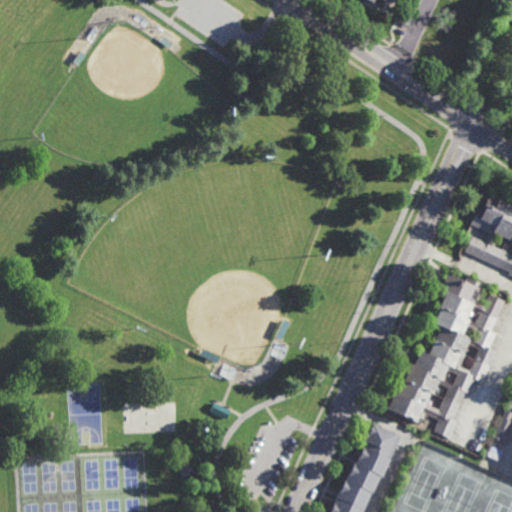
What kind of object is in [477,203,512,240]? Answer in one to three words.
house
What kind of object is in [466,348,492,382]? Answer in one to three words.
building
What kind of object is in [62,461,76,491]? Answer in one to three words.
sports court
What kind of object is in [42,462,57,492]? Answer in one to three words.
sports court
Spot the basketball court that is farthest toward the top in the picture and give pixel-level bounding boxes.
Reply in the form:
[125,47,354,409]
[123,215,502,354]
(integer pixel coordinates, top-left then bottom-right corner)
[68,384,102,447]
